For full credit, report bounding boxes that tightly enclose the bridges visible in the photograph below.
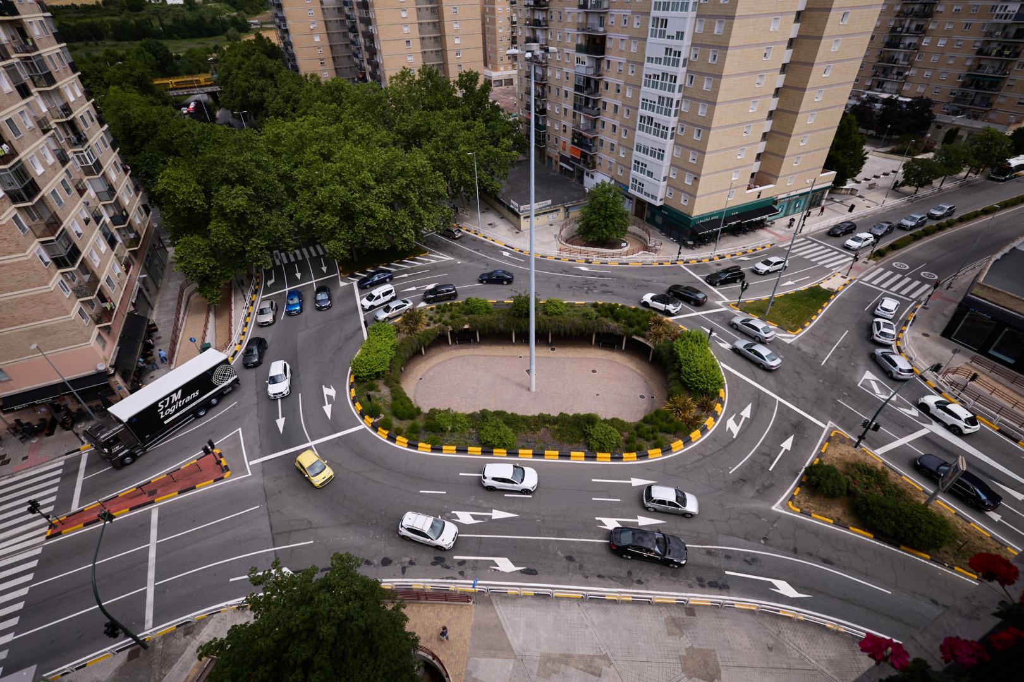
[159,80,246,102]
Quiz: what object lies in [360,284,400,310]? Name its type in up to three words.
vehicle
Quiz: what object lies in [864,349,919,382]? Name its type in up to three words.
car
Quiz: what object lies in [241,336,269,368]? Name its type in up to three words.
car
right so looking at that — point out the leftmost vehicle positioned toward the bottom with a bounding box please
[76,349,242,473]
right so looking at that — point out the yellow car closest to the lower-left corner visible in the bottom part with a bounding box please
[294,449,332,489]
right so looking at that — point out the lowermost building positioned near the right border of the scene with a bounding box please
[941,223,1024,372]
